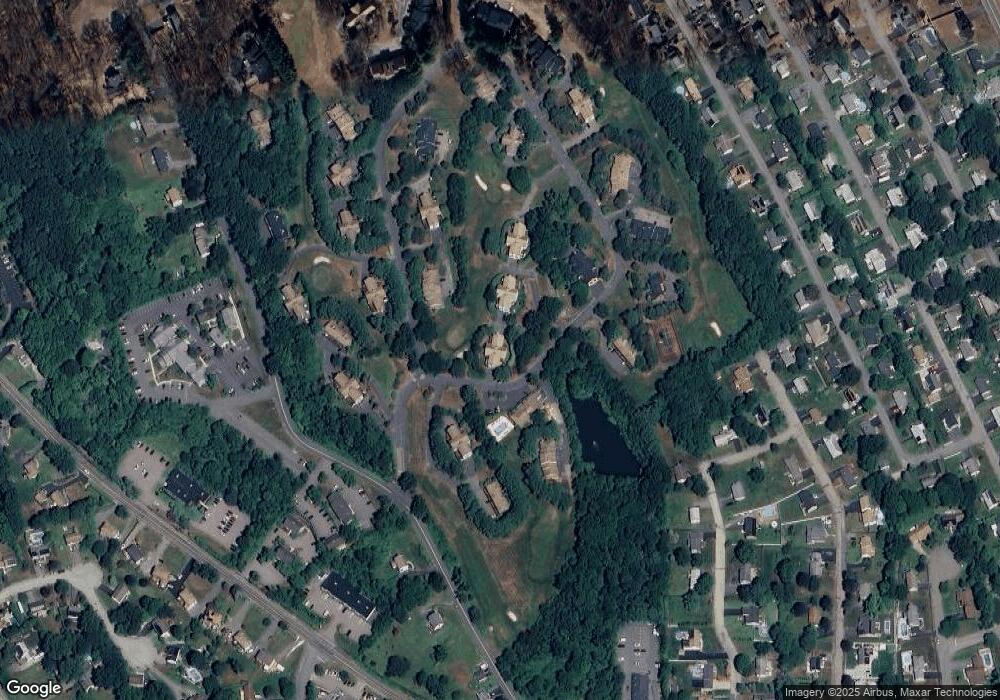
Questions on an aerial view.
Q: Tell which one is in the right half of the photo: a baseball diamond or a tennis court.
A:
tennis court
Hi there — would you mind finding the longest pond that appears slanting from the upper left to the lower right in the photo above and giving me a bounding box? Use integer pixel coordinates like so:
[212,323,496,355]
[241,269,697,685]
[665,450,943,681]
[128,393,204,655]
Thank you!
[572,398,640,474]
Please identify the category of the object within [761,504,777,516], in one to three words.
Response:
swimming pool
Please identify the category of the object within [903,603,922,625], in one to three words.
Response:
house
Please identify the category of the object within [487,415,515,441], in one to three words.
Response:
swimming pool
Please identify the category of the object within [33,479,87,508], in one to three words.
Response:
building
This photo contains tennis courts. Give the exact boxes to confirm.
[647,317,683,362]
